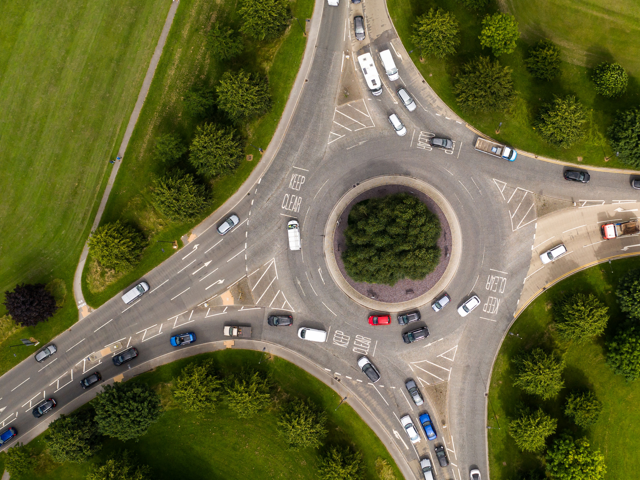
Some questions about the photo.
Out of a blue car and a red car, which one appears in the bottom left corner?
blue car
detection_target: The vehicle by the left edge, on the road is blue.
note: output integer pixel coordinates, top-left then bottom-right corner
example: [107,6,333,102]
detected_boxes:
[0,426,19,447]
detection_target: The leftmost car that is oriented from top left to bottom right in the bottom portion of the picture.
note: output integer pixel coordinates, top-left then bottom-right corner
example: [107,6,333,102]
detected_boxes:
[357,355,382,385]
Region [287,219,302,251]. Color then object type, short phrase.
white vehicle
